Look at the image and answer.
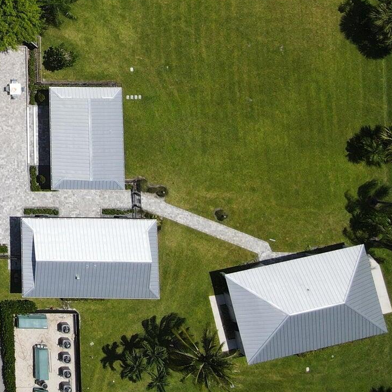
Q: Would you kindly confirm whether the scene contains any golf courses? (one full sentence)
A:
No, no golf course can be seen from above.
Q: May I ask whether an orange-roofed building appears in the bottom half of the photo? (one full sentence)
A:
No, no orange-roofed building can be made out in the bottom half of the photo.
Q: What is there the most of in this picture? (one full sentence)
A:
Most of the picture is covered by grass.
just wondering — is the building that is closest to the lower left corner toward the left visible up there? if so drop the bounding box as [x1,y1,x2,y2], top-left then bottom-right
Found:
[17,215,160,300]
